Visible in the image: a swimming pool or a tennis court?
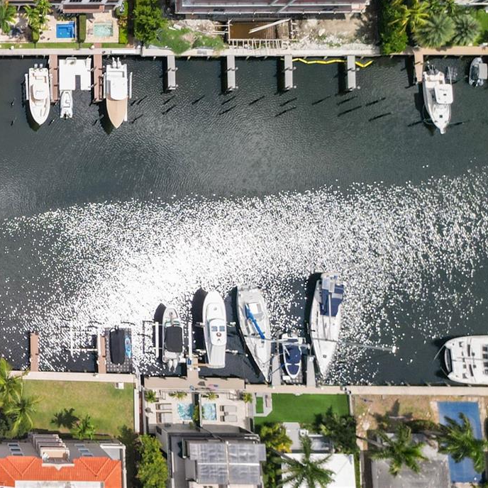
swimming pool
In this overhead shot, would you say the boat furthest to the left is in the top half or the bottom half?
top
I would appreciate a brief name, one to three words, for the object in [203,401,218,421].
swimming pool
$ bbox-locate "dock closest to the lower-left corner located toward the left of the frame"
[28,333,40,373]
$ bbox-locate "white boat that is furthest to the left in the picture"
[29,63,50,125]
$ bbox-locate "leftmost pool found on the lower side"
[176,401,195,421]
